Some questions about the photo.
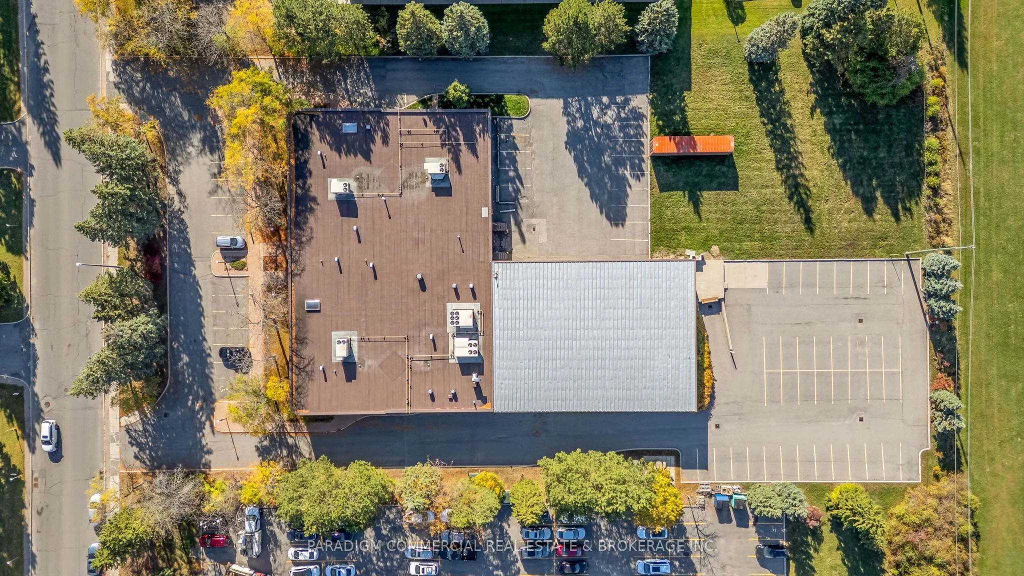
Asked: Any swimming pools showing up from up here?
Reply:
No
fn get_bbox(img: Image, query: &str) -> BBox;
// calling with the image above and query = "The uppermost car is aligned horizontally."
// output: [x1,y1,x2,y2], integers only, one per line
[216,235,246,249]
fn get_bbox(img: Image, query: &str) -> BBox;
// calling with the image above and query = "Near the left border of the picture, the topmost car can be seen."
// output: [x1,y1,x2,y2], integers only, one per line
[41,421,59,451]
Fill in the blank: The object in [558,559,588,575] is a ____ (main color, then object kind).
black car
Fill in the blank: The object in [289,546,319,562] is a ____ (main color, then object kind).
white car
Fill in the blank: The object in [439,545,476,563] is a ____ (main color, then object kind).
black vehicle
